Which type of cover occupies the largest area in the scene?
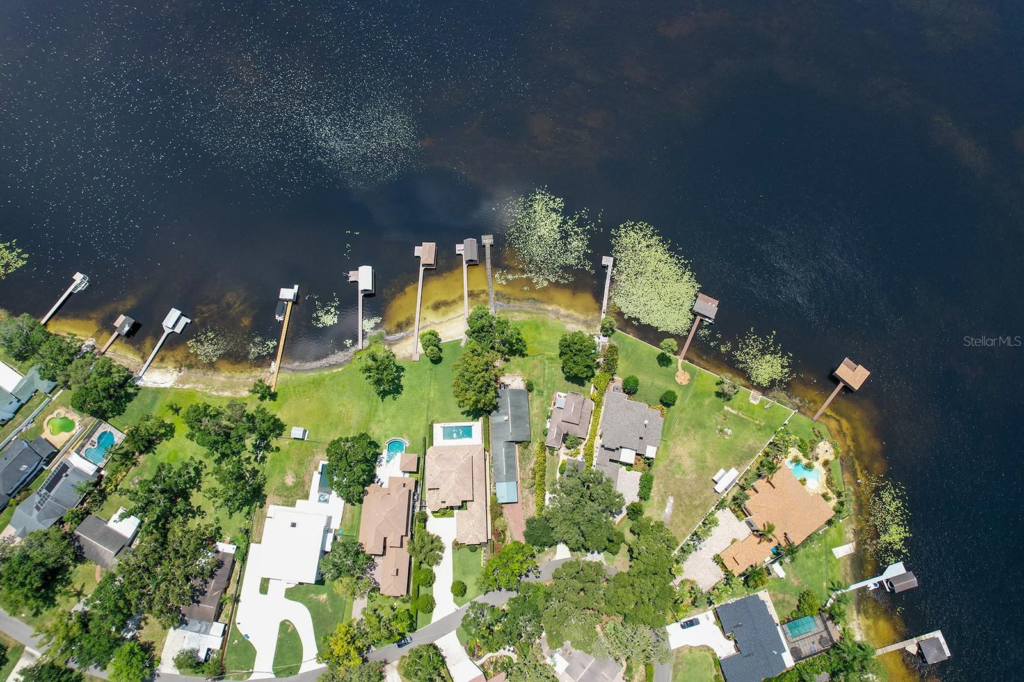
water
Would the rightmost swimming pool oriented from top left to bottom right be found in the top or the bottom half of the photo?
bottom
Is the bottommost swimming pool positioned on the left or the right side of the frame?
right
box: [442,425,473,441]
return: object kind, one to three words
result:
swimming pool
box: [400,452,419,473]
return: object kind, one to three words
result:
building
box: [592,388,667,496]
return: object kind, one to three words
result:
house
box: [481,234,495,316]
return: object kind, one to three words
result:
pier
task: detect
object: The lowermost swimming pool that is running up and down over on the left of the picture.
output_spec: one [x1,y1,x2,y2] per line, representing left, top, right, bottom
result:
[317,464,336,503]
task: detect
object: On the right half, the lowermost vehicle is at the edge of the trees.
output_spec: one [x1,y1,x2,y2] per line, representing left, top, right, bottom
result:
[680,617,700,629]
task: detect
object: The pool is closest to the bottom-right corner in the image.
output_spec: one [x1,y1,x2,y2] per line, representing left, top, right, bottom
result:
[785,614,818,639]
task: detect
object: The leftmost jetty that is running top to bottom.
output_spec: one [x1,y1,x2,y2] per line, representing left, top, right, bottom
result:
[271,284,300,393]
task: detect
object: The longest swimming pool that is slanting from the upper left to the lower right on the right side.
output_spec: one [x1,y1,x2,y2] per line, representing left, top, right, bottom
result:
[786,459,821,490]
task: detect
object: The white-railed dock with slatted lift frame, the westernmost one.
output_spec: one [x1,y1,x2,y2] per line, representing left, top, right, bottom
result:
[43,271,90,320]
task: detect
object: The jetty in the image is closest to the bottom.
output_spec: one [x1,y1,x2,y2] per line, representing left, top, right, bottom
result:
[875,629,952,665]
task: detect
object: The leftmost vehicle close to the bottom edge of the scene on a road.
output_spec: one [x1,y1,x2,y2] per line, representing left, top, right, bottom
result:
[394,635,413,649]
